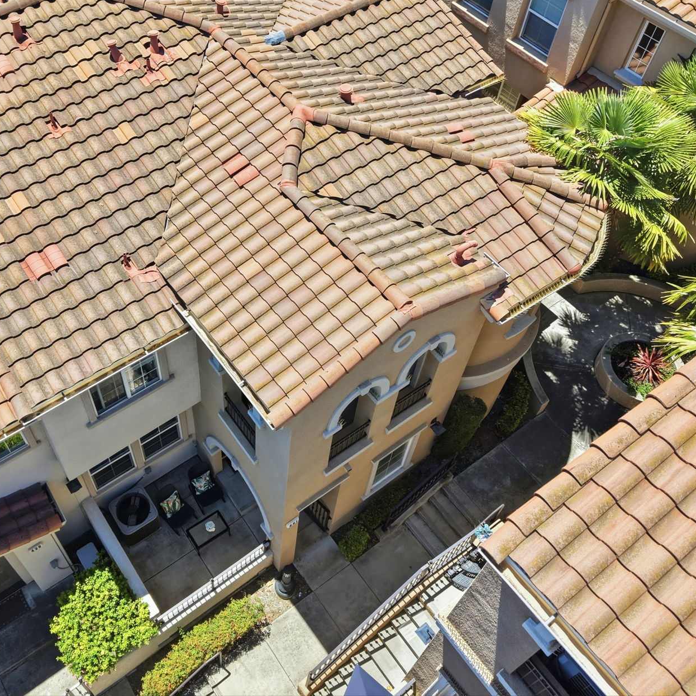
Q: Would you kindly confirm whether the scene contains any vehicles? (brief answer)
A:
No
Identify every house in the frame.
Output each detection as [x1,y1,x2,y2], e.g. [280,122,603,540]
[0,0,616,618]
[394,323,696,696]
